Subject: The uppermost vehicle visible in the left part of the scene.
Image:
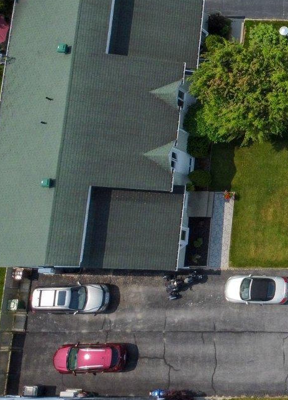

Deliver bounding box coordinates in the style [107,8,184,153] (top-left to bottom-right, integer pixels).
[30,279,115,317]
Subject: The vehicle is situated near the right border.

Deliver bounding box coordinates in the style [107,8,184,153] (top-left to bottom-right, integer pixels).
[224,271,288,307]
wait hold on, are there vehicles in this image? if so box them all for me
[172,271,208,290]
[224,271,288,307]
[30,279,115,317]
[163,270,179,304]
[52,340,131,377]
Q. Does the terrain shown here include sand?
No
